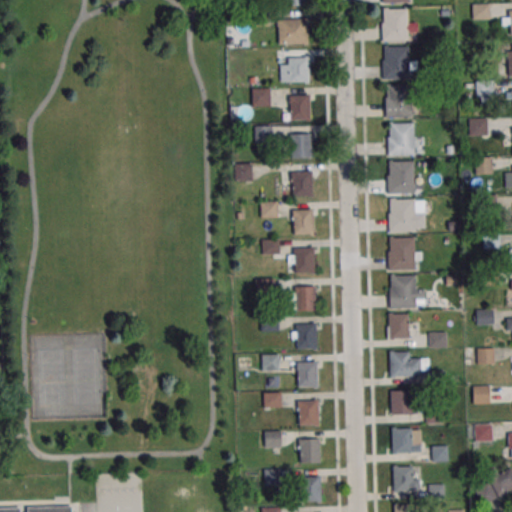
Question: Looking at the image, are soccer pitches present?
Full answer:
No, the frame has no soccer pitch in it.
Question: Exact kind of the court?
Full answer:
What you see as the court is a tennis court.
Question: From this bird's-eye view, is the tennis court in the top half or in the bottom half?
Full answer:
It is in the bottom half that the tennis court appears.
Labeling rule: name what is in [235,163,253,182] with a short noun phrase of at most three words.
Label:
building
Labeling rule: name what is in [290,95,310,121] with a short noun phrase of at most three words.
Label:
house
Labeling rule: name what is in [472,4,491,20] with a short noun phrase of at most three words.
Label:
building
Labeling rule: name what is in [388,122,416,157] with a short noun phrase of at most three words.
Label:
house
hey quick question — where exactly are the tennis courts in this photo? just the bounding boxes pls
[30,333,105,418]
